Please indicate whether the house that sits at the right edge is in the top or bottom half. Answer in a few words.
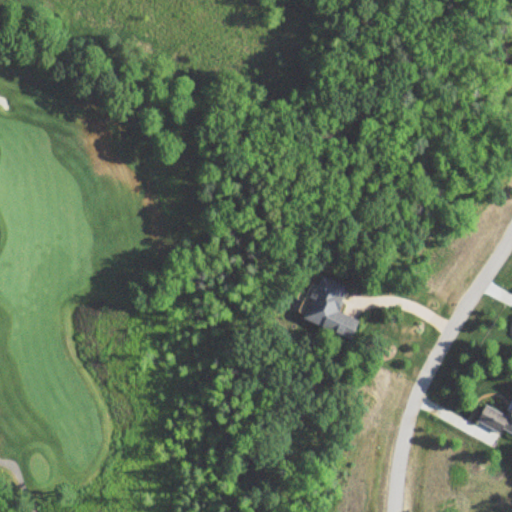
bottom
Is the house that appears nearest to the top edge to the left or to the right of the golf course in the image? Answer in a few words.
right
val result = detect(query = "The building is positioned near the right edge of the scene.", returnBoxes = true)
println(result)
[478,405,512,442]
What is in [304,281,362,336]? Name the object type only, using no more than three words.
house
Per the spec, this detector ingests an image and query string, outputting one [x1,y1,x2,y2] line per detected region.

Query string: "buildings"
[478,405,512,442]
[304,281,362,336]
